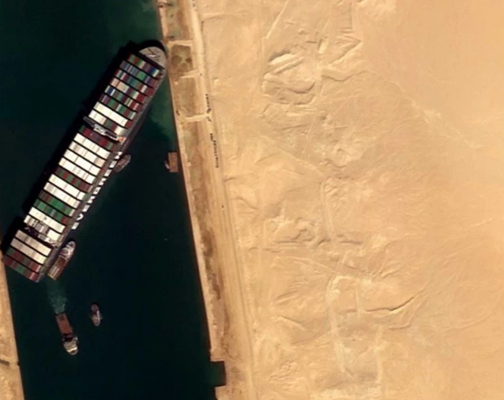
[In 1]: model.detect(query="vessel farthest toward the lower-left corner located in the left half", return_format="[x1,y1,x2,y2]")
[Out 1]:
[55,311,76,356]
